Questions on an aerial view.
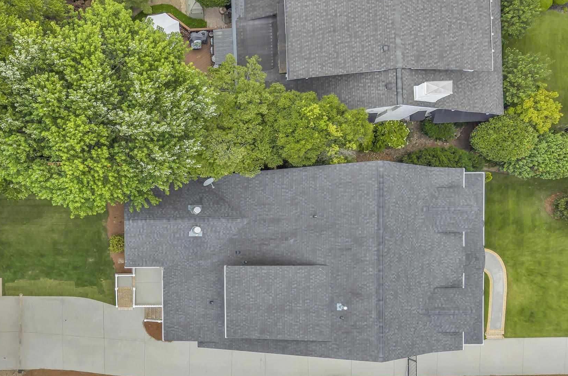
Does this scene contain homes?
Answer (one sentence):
Yes, there's a home down there.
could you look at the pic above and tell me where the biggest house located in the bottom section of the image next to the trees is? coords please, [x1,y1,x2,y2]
[124,161,488,362]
